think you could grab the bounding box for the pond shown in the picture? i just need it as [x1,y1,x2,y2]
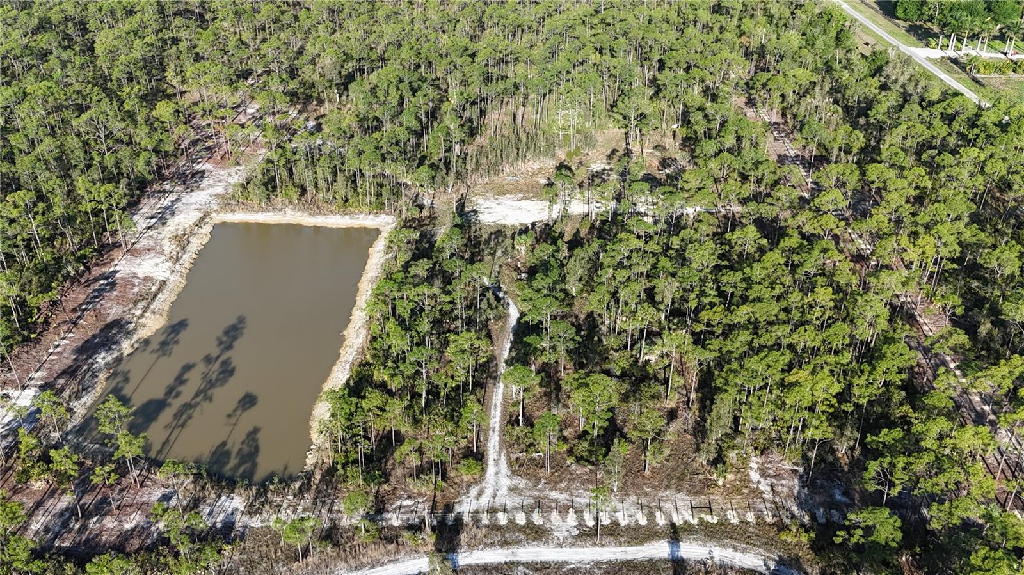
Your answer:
[70,222,381,477]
